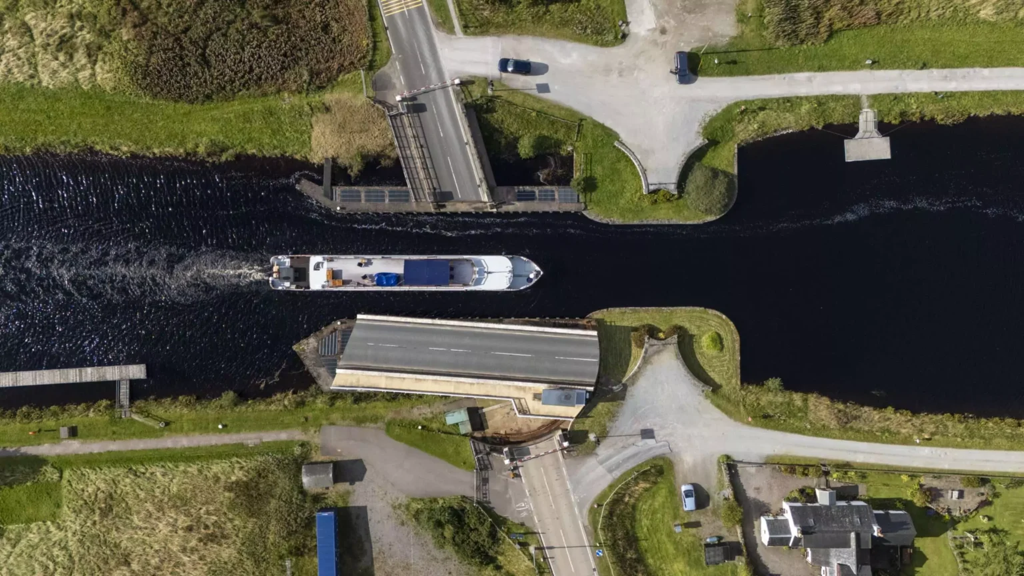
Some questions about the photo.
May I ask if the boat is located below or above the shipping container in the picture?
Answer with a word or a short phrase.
above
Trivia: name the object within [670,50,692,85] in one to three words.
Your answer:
car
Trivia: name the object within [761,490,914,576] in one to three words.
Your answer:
house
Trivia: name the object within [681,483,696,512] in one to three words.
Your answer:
car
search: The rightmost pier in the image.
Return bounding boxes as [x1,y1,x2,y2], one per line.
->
[824,108,912,162]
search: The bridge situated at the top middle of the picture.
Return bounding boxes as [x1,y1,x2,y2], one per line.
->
[372,97,499,203]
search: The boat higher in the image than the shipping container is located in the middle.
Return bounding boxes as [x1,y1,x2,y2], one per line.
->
[269,252,543,292]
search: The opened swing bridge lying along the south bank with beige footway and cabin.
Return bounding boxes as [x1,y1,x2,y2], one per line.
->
[331,314,600,421]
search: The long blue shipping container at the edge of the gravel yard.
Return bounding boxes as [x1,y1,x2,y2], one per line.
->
[317,505,343,576]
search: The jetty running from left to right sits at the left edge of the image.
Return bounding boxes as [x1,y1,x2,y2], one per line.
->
[0,364,147,417]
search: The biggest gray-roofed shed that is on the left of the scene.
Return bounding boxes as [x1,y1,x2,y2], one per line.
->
[303,458,337,490]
